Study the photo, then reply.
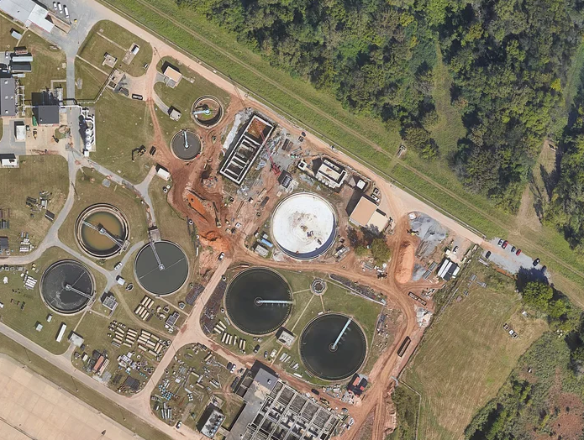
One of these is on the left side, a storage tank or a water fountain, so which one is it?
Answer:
storage tank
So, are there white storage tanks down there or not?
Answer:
Yes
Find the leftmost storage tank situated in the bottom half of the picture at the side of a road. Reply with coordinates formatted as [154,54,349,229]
[39,258,98,316]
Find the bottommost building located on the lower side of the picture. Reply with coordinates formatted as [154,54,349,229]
[200,407,227,439]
